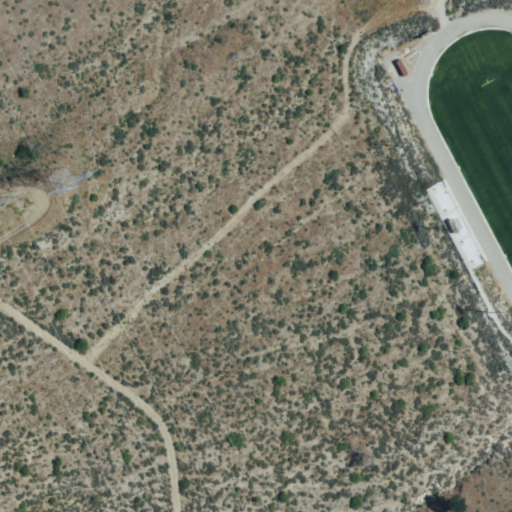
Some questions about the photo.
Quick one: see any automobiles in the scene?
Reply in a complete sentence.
No, the picture doesn't show any automobile.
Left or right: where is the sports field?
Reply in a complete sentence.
You can find the sports field on the right side of the picture.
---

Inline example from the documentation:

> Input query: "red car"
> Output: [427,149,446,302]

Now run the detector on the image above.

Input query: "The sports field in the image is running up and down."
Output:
[430,28,512,264]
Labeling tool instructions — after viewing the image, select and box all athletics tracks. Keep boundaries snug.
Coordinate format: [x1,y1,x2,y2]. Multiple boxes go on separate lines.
[412,8,512,302]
